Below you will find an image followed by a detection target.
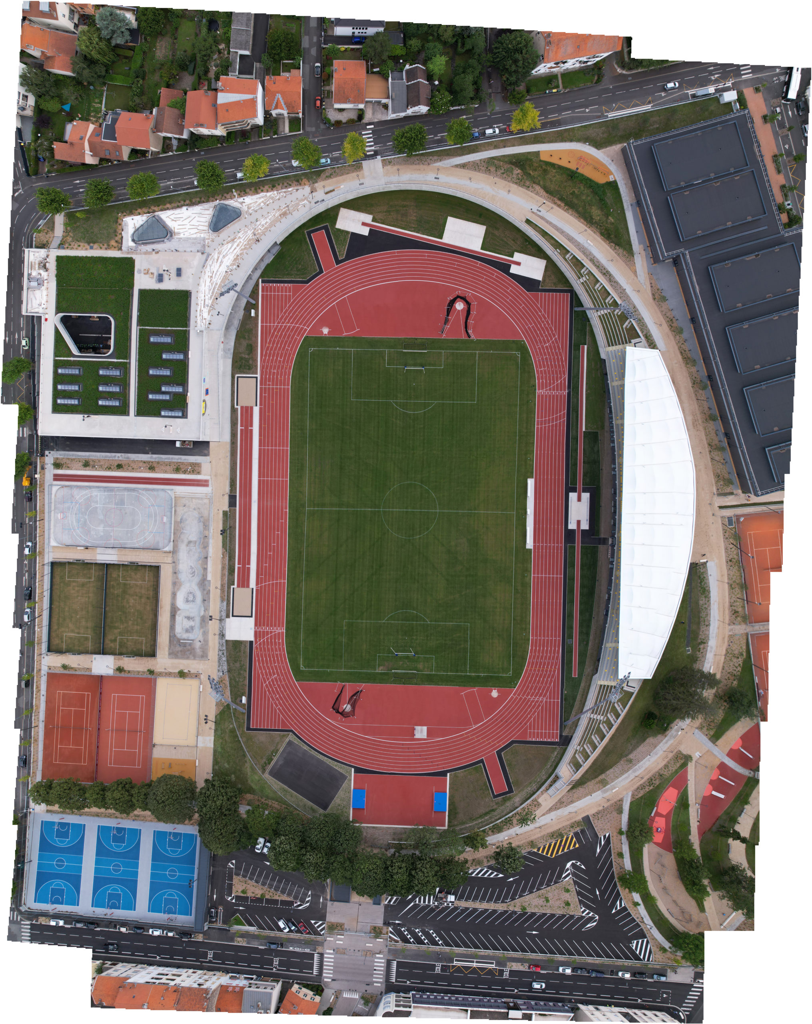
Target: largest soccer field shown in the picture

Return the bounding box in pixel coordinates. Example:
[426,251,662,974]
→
[284,335,535,686]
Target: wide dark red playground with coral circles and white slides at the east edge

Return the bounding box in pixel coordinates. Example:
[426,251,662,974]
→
[698,718,762,841]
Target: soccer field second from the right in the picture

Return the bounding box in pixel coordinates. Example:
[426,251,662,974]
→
[102,563,161,658]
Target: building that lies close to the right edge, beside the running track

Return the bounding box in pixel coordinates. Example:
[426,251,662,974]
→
[621,108,803,497]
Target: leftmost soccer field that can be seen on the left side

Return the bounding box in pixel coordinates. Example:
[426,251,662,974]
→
[47,561,106,655]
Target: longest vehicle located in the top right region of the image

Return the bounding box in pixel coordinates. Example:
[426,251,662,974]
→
[783,65,800,107]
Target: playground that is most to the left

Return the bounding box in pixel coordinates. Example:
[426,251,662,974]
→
[648,766,689,854]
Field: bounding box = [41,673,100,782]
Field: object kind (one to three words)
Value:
tennis court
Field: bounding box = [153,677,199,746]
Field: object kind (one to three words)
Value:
sports court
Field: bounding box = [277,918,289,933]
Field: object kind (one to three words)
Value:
vehicle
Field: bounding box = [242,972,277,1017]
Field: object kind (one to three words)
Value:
house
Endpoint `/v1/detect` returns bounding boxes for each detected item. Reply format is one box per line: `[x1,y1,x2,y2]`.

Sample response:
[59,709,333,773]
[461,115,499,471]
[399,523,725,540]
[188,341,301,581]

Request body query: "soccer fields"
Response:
[284,335,535,686]
[47,561,106,655]
[102,563,161,658]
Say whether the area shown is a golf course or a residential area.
residential area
